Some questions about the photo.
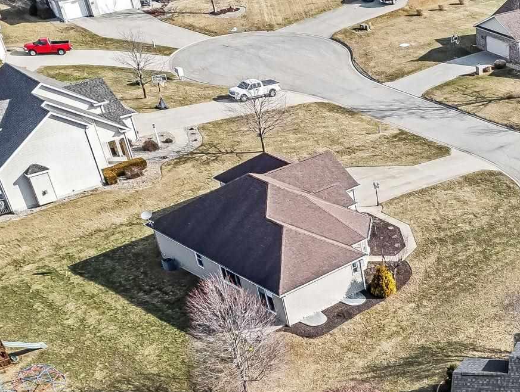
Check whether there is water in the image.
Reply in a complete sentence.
No, there's no water in this view.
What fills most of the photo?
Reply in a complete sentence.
What you mostly see from above here is grass.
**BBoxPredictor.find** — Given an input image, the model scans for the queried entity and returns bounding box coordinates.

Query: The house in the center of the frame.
[136,144,388,323]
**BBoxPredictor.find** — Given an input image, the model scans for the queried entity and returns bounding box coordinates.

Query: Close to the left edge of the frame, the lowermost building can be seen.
[0,58,137,213]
